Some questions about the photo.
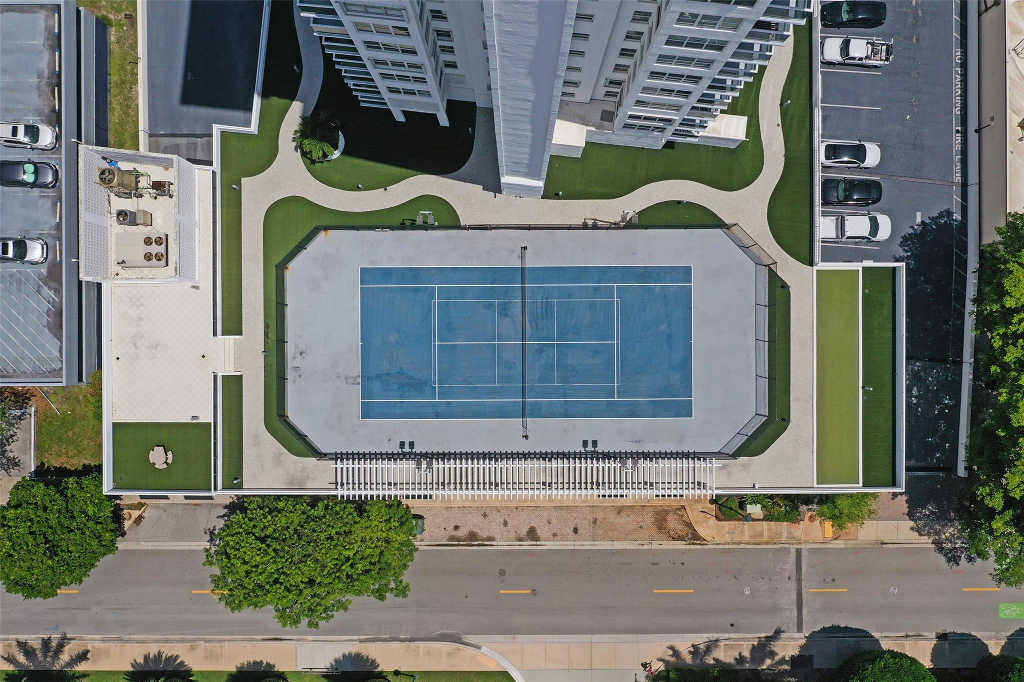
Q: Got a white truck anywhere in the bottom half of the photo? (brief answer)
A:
No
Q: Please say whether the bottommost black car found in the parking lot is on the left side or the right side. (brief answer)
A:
right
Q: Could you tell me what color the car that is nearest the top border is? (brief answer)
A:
black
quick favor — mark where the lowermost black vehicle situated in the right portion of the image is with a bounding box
[821,176,882,207]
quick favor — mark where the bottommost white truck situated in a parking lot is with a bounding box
[821,211,892,244]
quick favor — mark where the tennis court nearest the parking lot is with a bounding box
[287,229,766,454]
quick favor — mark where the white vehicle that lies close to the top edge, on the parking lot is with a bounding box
[821,33,897,68]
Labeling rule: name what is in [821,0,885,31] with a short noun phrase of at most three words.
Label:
car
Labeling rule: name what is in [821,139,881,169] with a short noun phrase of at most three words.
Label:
car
